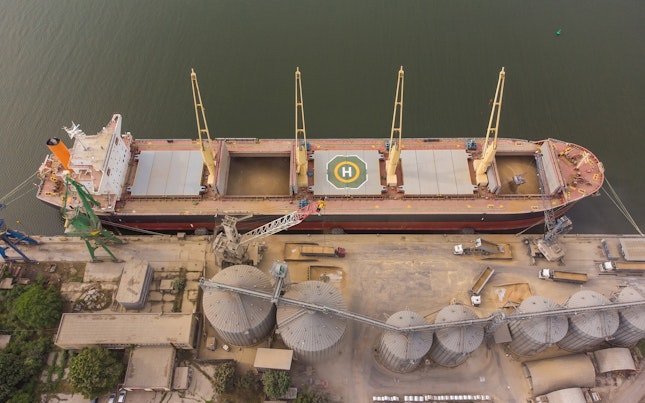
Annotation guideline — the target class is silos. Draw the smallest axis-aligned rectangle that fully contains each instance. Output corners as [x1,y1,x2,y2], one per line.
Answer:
[429,304,486,369]
[377,309,434,375]
[610,282,645,348]
[560,288,620,354]
[275,281,349,363]
[506,294,571,360]
[202,264,278,346]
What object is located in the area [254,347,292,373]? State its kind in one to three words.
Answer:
shed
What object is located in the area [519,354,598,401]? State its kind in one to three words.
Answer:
building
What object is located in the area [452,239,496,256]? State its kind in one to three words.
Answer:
vehicle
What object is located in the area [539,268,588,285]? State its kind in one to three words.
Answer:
vehicle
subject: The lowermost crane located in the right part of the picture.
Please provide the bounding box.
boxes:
[520,145,566,266]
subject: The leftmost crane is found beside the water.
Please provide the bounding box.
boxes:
[0,213,39,262]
